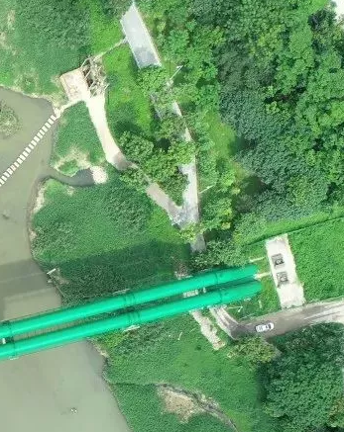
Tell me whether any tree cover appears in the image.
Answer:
Yes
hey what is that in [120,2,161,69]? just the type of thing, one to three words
shed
